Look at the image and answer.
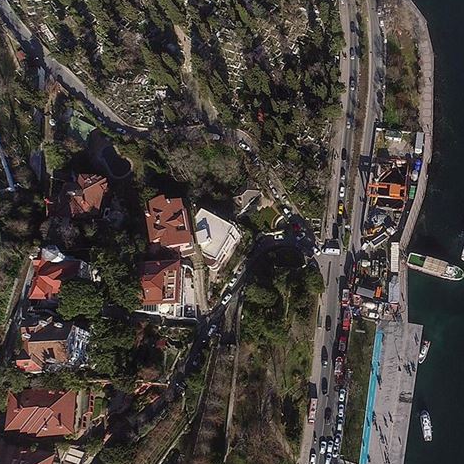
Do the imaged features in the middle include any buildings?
Yes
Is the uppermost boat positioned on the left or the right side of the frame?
right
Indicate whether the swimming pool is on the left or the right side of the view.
left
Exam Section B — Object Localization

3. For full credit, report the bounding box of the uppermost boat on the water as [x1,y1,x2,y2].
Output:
[408,252,464,279]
